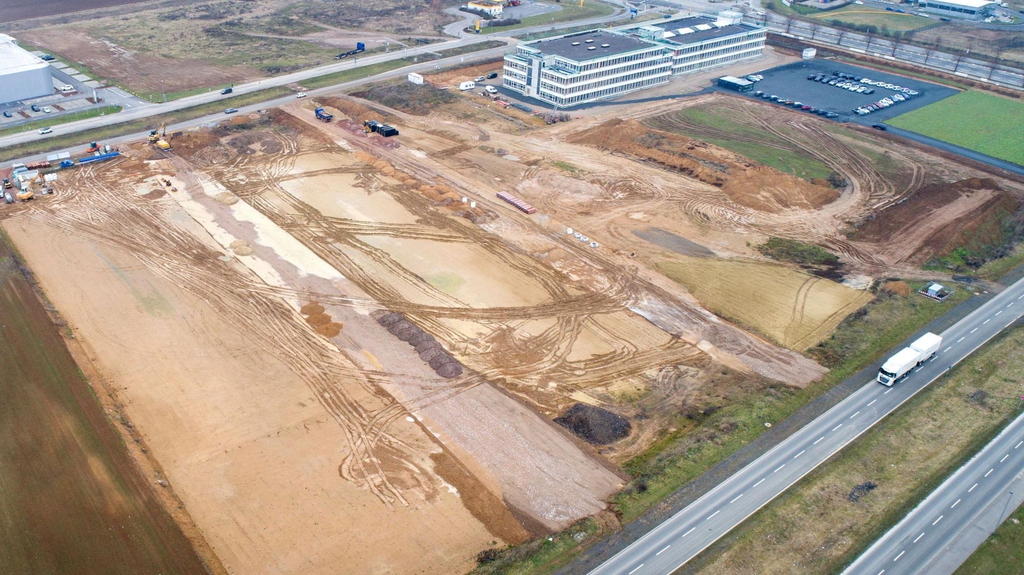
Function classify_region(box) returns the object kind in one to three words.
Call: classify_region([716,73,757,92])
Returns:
building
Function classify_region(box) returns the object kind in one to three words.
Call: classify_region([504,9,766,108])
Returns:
building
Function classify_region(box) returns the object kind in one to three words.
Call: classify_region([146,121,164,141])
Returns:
work vehicle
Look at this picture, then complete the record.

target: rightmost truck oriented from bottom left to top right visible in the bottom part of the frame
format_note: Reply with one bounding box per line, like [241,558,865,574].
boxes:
[881,333,943,384]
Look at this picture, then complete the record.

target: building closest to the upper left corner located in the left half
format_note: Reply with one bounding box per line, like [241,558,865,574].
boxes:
[0,32,49,98]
